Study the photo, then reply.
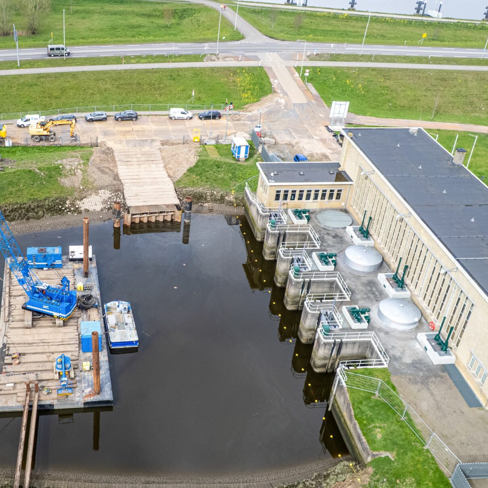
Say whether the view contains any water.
Yes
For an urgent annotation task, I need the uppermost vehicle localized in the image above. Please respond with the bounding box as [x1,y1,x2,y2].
[45,43,70,57]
